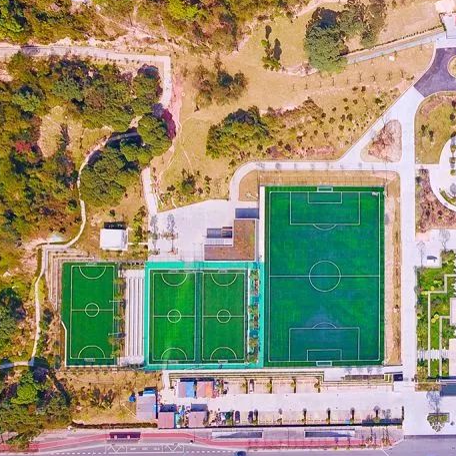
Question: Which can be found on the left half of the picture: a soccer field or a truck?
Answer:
soccer field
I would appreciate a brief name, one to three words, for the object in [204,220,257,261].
building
